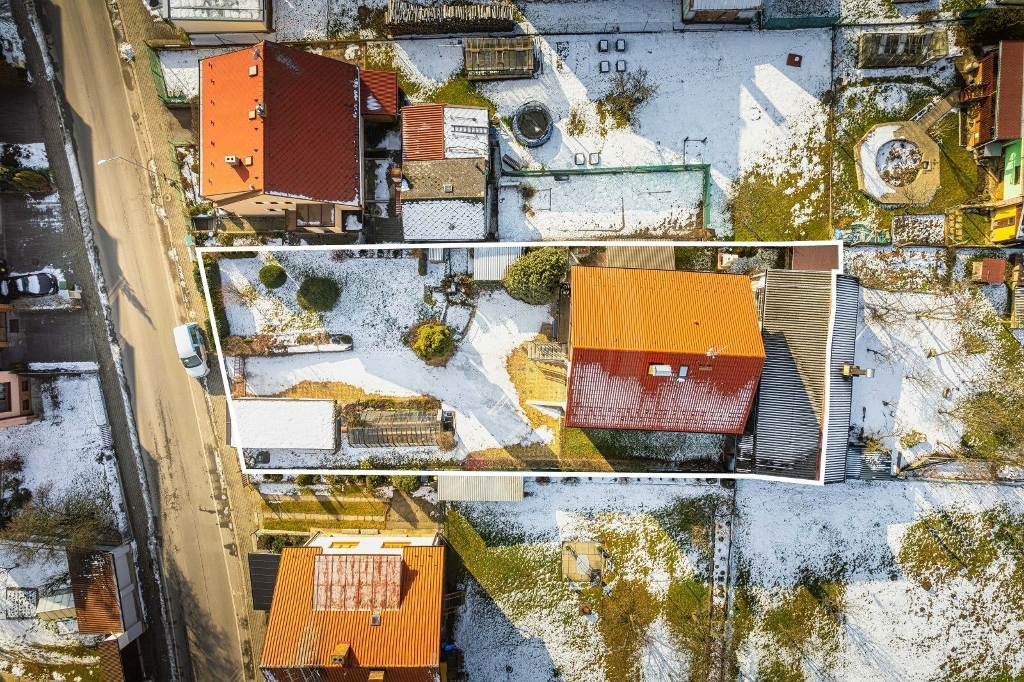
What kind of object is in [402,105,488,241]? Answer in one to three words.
shed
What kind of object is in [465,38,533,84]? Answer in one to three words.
greenhouse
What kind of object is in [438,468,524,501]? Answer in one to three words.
shed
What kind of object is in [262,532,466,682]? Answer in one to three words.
house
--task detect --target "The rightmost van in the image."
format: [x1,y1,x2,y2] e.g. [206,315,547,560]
[170,321,213,380]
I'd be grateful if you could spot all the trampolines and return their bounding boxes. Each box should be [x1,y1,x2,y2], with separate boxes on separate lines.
[514,96,558,147]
